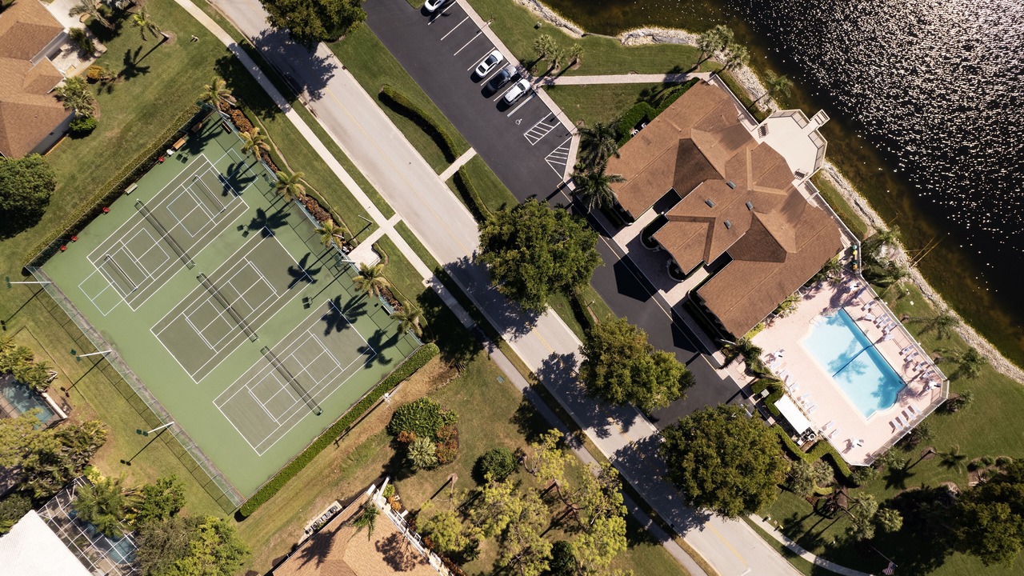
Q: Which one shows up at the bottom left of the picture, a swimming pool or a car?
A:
swimming pool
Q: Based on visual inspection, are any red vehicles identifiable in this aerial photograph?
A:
No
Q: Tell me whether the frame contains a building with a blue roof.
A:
No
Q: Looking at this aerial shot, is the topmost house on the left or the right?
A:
left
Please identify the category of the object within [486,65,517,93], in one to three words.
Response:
car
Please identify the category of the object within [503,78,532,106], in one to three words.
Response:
car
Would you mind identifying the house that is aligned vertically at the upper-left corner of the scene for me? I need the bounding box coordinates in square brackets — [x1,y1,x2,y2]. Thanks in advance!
[0,0,80,172]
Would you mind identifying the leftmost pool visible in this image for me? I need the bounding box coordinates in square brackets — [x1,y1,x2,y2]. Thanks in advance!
[0,366,67,435]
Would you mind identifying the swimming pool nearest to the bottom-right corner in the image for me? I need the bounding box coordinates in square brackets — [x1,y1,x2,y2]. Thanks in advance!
[751,244,947,463]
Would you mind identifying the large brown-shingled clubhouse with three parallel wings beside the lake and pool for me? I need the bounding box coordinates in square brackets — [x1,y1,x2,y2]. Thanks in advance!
[600,80,843,339]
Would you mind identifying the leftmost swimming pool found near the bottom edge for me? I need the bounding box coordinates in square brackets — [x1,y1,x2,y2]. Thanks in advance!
[44,478,163,576]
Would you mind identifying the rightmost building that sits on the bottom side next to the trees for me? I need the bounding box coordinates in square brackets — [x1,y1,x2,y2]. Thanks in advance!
[275,491,439,576]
